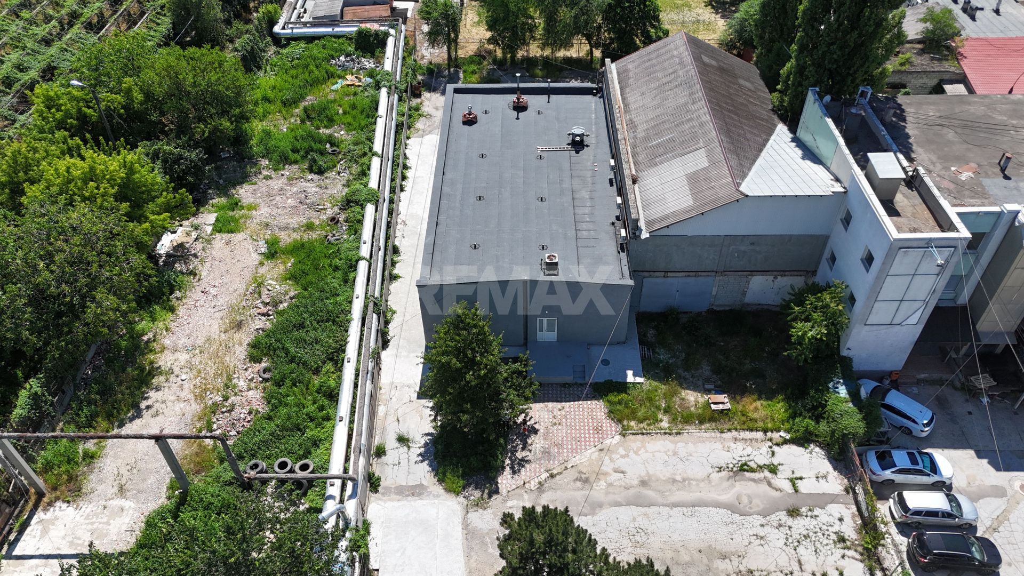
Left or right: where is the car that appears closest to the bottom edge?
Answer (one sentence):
The car that appears closest to the bottom edge is on the right side of the image.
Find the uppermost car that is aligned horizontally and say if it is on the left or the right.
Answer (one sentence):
It is on the right.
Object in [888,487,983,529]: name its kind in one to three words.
car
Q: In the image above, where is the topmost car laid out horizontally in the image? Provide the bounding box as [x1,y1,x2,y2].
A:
[864,447,956,487]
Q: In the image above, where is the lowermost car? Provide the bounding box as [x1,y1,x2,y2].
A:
[905,529,1003,575]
